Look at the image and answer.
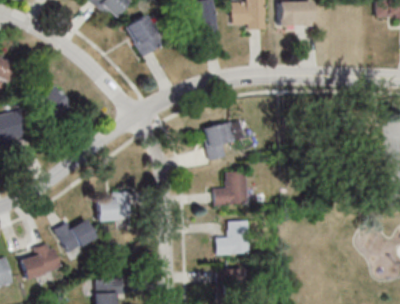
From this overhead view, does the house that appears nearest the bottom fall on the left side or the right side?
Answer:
left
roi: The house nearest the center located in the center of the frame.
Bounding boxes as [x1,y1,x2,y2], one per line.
[204,122,236,159]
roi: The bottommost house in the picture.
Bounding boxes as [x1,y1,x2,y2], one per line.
[94,278,124,304]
